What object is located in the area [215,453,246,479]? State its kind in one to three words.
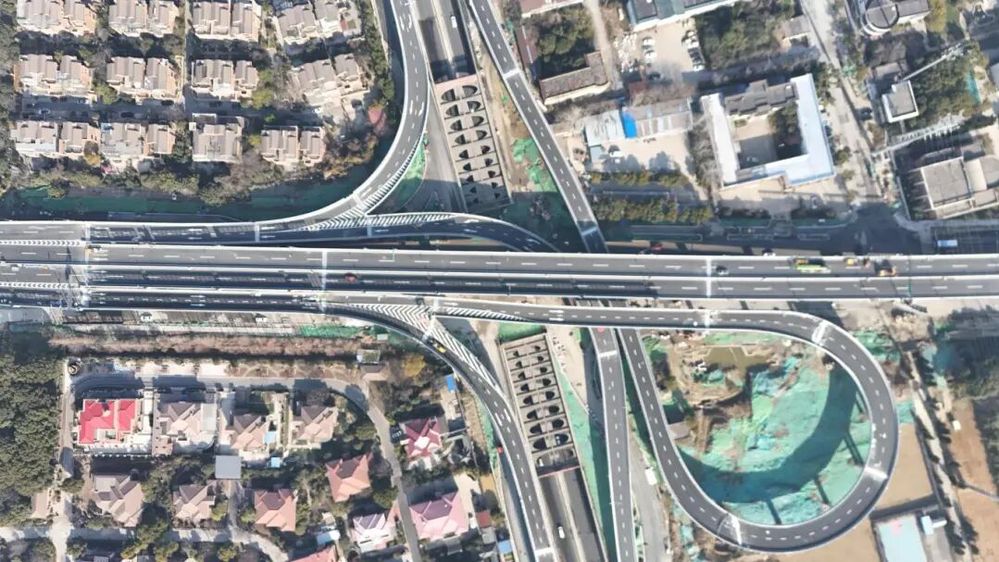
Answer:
shed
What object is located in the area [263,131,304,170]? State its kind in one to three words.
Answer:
house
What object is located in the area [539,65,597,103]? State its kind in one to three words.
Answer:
building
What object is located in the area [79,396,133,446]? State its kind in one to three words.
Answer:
house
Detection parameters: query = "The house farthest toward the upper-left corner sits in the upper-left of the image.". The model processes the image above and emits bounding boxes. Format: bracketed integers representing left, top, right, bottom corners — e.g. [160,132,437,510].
[19,0,75,40]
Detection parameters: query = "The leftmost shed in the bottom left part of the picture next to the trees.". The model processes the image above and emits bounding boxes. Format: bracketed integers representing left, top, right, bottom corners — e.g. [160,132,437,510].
[30,488,52,518]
